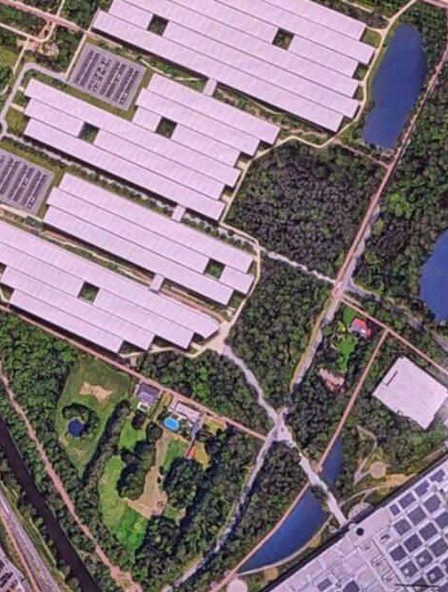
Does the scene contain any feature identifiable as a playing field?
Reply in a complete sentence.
No, I can't see a single playing field in this photo.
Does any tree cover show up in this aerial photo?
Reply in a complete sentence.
Yes, there is tree cover in the image.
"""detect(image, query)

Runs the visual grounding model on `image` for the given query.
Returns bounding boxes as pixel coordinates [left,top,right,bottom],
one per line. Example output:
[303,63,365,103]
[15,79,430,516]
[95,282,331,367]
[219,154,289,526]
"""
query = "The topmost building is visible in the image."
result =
[94,0,375,131]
